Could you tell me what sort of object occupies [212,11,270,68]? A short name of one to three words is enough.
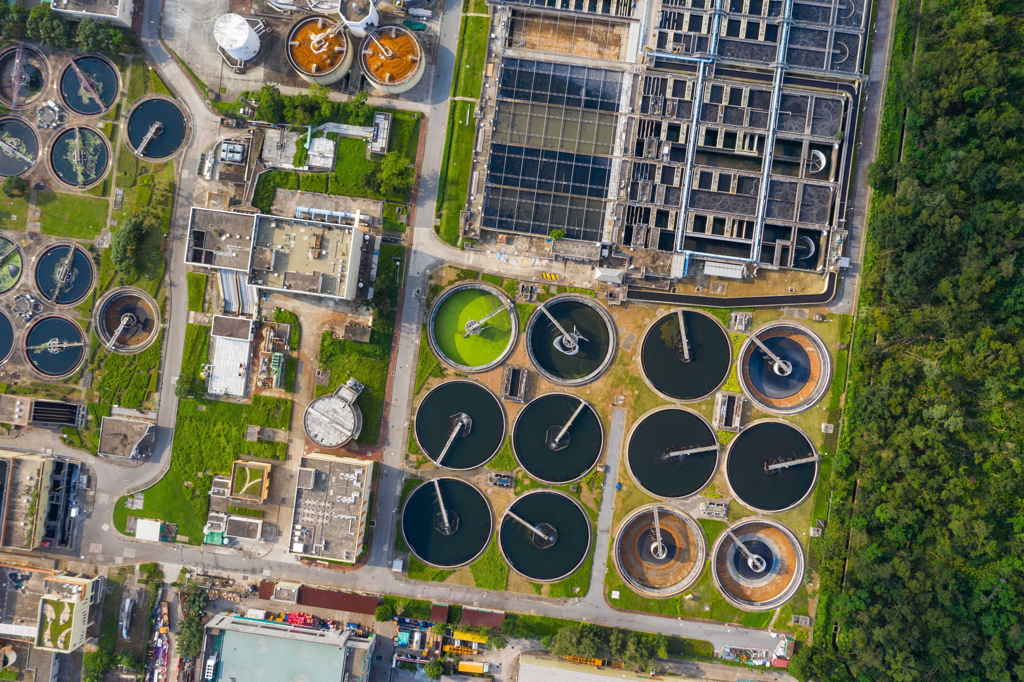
storage tank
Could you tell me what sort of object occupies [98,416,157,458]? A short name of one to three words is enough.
building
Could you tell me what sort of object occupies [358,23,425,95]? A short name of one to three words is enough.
storage tank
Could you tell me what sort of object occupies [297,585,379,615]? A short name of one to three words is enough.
shed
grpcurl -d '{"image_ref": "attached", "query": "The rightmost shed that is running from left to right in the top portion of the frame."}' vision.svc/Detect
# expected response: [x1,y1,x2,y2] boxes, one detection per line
[703,261,744,278]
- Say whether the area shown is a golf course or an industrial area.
industrial area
